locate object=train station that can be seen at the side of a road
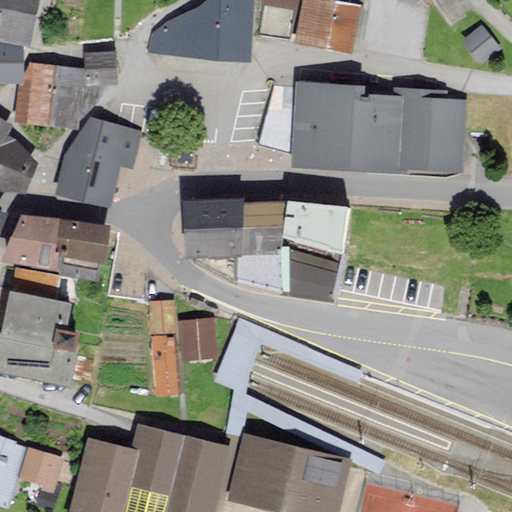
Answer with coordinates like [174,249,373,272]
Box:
[214,318,512,474]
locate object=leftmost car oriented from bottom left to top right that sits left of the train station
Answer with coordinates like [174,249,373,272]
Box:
[72,384,92,406]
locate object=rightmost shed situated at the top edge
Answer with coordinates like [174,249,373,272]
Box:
[463,24,502,64]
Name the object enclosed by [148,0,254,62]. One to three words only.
barn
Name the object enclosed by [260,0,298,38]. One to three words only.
house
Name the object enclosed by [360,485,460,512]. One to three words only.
sports court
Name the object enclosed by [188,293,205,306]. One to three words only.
vehicle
